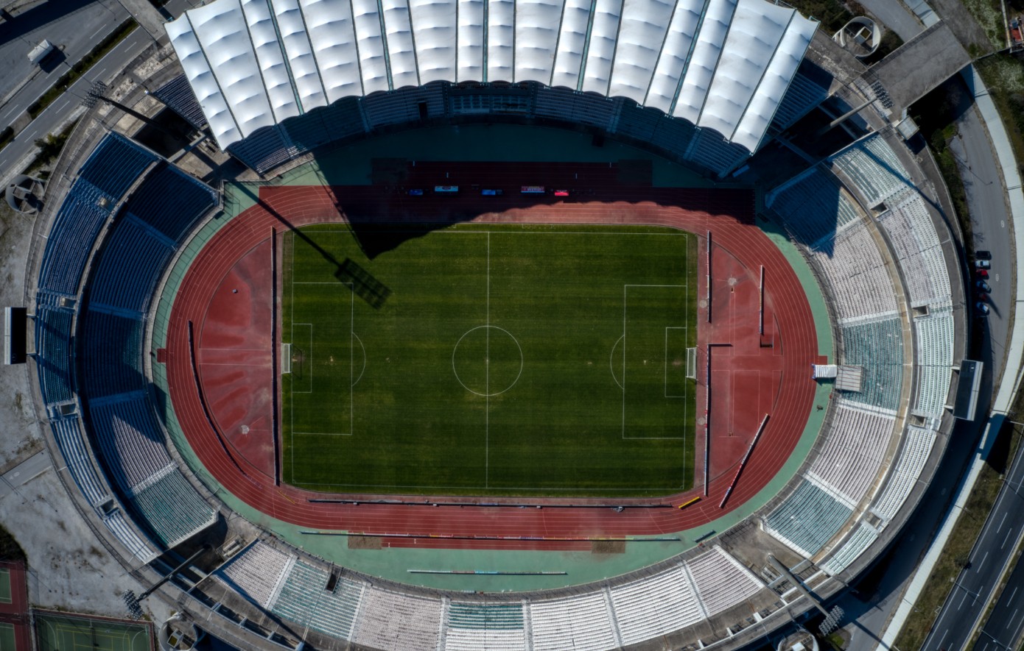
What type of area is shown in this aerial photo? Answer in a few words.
sports ground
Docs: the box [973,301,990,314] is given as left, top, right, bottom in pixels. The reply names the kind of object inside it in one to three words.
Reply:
vehicle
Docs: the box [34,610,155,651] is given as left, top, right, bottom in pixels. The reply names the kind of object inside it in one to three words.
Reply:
sports court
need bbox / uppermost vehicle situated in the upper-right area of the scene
[1009,19,1022,42]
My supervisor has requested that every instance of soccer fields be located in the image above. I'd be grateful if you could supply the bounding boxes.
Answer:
[282,223,699,497]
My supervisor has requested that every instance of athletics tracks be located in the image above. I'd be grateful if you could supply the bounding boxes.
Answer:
[157,161,827,551]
